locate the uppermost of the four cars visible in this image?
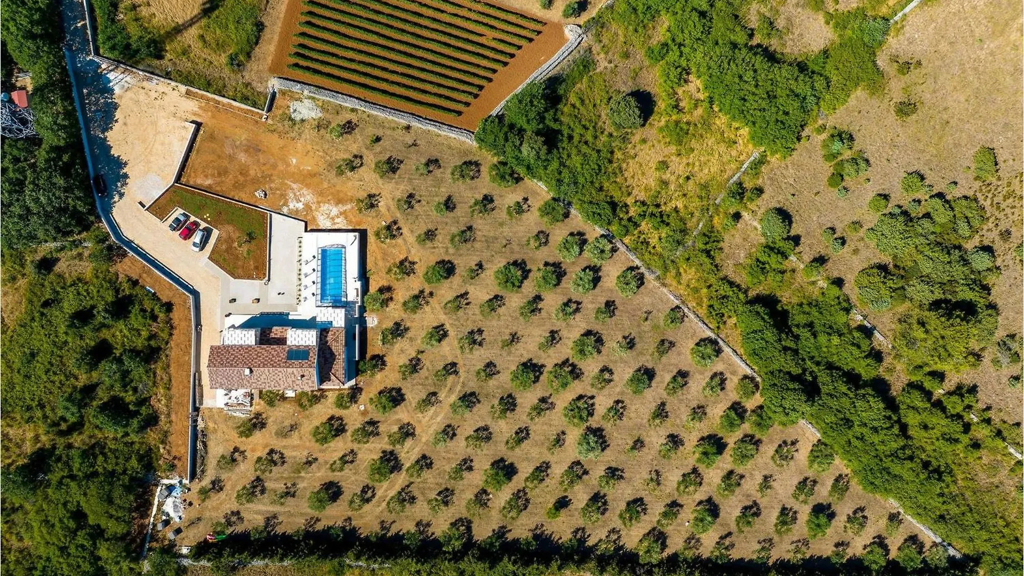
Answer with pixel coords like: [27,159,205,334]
[93,173,109,198]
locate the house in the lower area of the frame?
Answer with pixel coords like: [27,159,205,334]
[206,327,351,390]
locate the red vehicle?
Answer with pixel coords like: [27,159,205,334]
[178,220,200,240]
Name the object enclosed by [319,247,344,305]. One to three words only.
swimming pool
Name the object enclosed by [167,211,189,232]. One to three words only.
car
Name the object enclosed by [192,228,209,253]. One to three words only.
car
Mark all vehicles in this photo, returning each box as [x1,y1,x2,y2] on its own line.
[93,173,109,198]
[192,228,209,253]
[178,220,200,240]
[167,211,189,232]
